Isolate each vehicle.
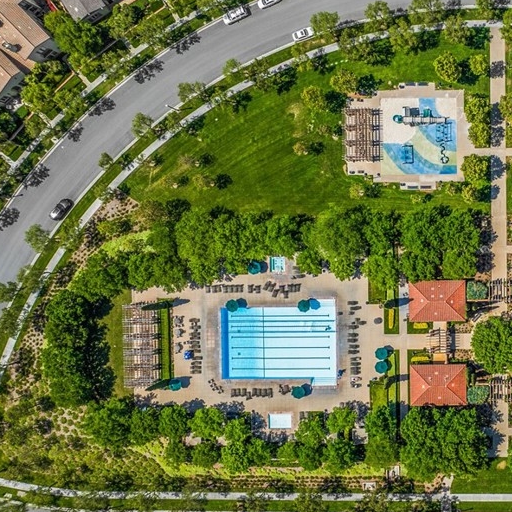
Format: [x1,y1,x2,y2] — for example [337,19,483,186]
[256,0,280,8]
[289,26,313,41]
[48,197,71,221]
[222,5,248,24]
